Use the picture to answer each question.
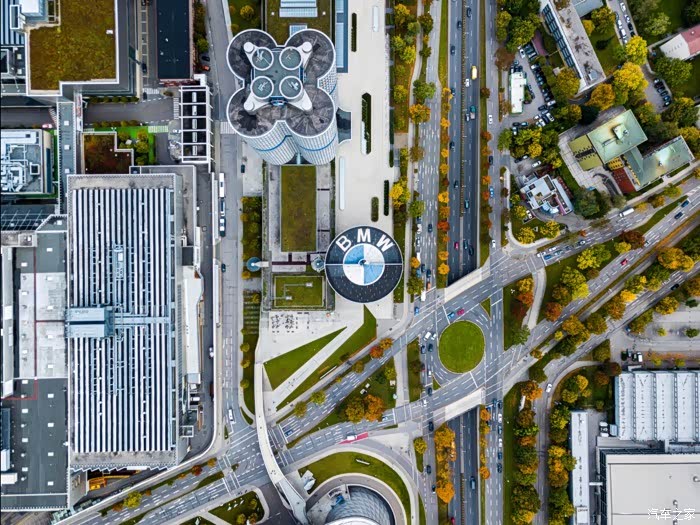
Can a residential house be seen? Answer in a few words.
Yes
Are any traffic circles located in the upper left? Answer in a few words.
No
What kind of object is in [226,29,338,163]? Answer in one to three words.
building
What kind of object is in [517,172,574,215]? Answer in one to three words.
house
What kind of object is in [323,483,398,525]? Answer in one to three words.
building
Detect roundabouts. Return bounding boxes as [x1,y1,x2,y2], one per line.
[435,313,489,379]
